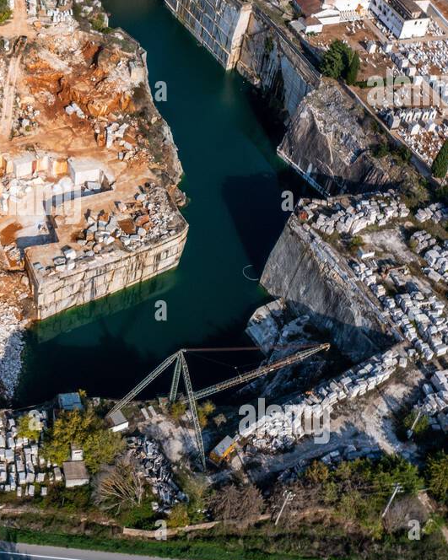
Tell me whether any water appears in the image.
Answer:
Yes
